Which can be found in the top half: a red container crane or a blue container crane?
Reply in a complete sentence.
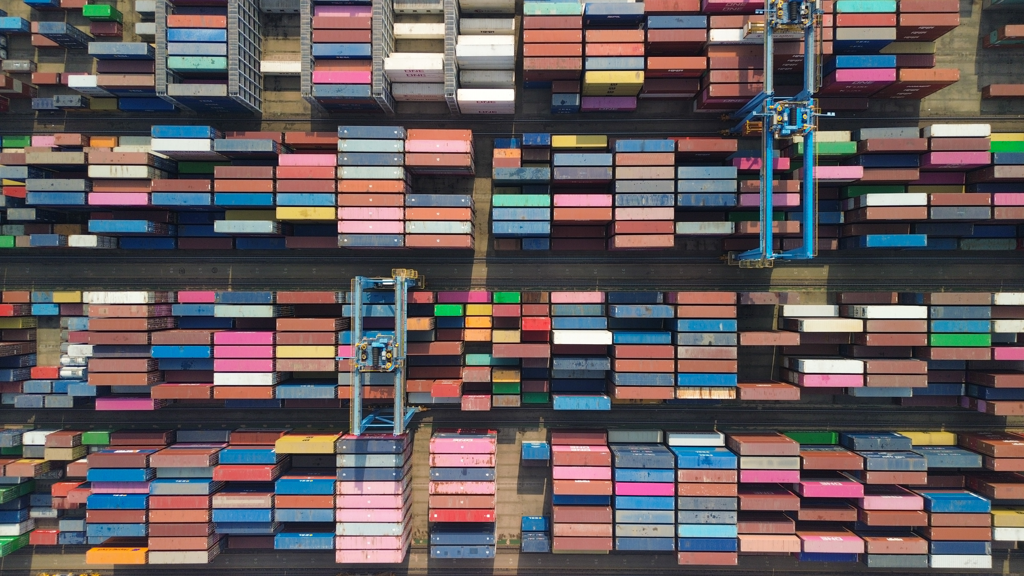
The feature located in the top half is a blue container crane.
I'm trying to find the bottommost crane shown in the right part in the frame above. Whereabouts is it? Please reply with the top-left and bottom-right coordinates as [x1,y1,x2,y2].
[712,96,835,271]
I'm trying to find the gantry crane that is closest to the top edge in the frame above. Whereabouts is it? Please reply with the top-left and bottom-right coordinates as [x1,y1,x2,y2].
[713,0,821,121]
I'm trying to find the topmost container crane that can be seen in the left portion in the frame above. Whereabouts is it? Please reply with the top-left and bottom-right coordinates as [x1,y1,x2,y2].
[335,268,434,439]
